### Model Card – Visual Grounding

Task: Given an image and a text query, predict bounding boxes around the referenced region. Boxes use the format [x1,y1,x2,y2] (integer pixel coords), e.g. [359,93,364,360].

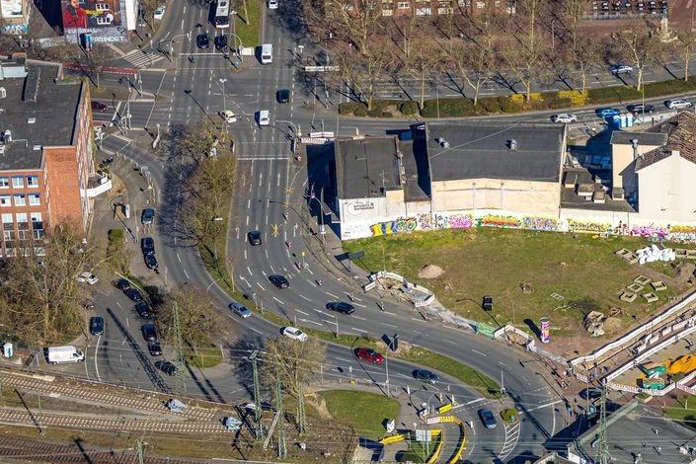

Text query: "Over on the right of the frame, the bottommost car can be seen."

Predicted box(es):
[481,407,496,428]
